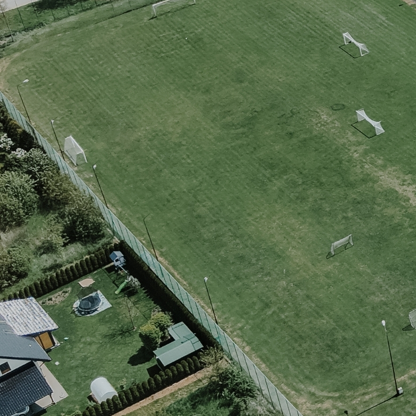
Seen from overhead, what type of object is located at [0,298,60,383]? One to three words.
house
